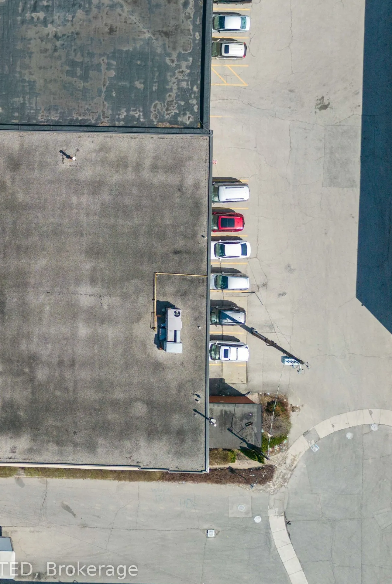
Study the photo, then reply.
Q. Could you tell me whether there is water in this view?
No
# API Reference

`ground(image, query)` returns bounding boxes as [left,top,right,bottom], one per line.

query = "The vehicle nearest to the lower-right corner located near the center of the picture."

[210,338,252,364]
